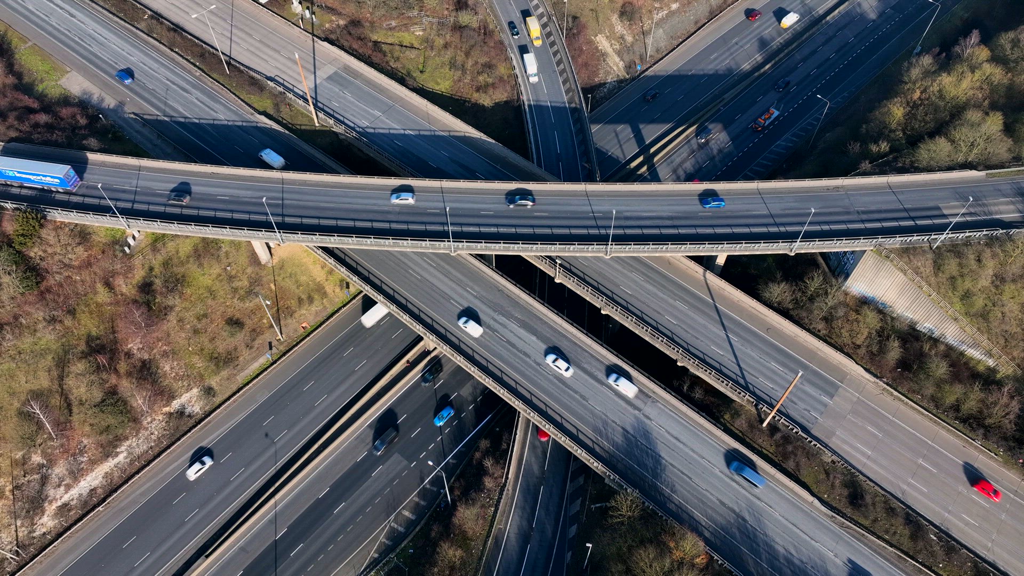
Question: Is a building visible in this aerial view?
No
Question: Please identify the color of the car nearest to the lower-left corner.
white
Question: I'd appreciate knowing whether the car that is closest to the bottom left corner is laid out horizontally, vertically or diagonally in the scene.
diagonally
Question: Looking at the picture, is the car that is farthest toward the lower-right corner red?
Yes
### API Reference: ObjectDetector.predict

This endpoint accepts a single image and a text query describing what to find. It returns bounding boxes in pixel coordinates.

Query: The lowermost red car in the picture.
[968,475,1005,505]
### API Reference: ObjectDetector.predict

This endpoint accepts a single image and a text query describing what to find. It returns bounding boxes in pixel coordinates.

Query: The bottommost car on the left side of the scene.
[184,455,214,482]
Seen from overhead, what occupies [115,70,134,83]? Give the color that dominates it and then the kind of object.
blue vehicle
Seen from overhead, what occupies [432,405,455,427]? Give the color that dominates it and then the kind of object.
blue car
